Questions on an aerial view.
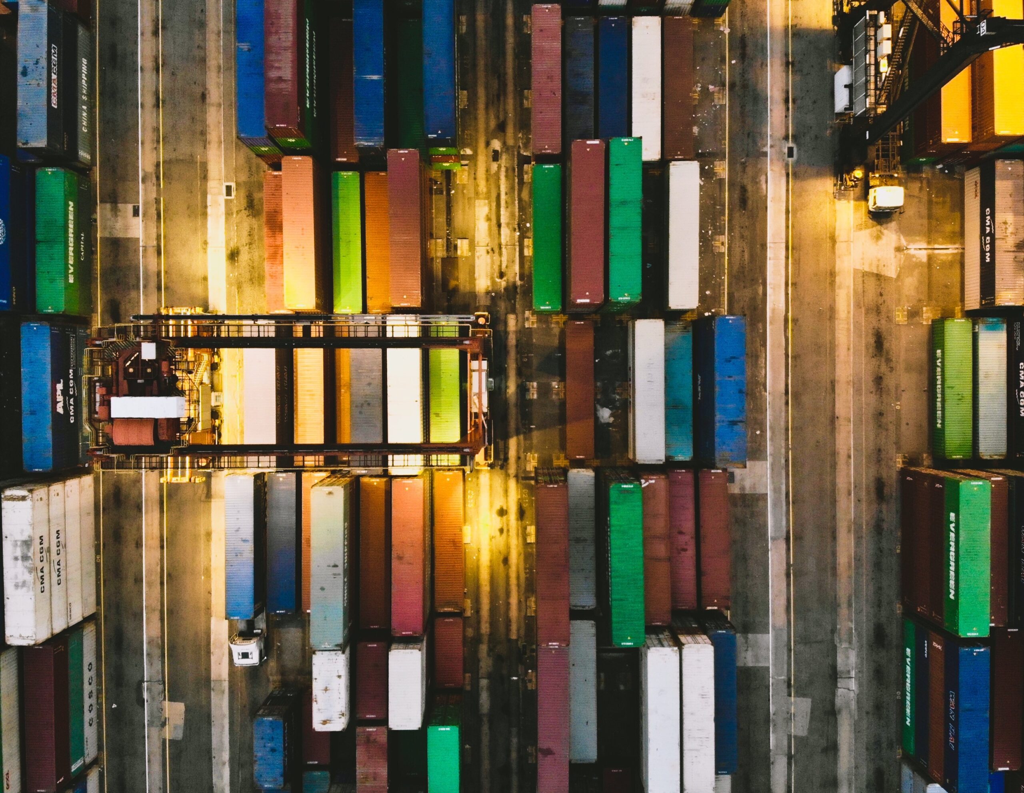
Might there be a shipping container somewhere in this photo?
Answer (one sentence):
Yes, I can see a shipping container in this picture.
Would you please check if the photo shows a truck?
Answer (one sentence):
Yes, a truck appears in the view.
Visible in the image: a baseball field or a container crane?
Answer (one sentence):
Looking from above, you can make out a container crane.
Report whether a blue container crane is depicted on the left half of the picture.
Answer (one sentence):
No, the scene shows no blue container crane on the left half of the picture.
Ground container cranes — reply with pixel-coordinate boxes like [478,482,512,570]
[828,0,1024,199]
[76,306,503,486]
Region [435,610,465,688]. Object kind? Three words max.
shipping container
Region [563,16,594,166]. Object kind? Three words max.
shipping container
